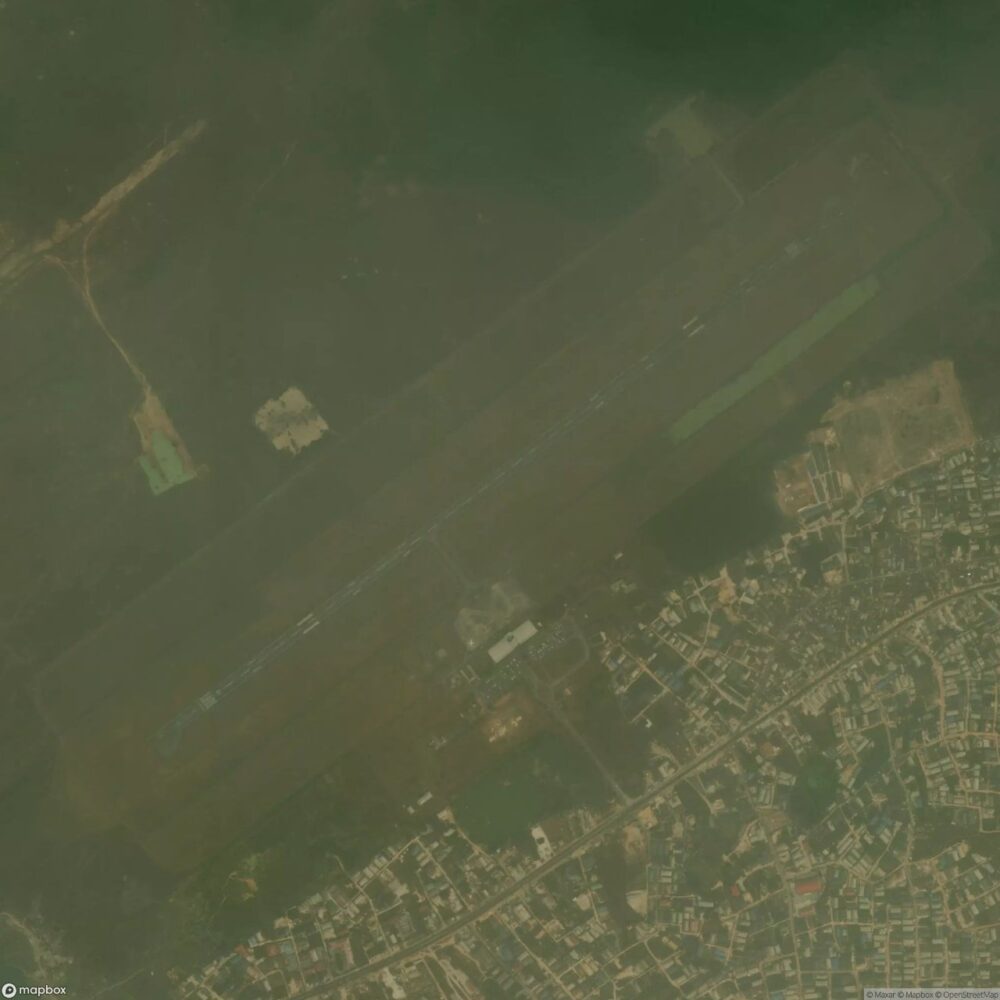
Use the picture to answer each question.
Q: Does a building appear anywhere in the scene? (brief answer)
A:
Yes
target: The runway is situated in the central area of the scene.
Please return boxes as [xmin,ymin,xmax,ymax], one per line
[156,206,846,742]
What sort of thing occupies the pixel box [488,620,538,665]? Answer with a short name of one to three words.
building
